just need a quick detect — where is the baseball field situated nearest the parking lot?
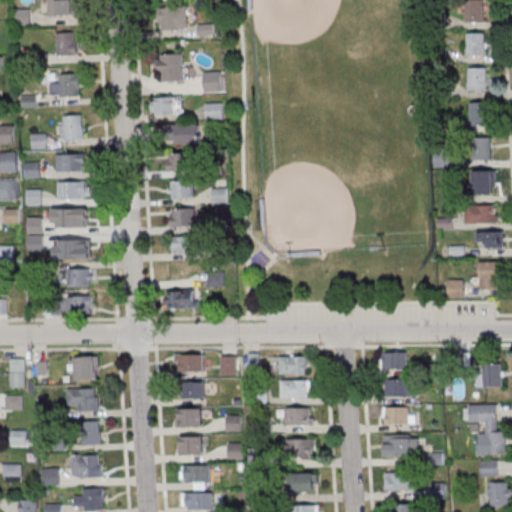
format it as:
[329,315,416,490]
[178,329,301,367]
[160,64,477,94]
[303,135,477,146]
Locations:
[246,44,431,258]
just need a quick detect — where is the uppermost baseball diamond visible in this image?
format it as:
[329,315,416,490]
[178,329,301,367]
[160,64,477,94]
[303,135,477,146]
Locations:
[246,0,405,105]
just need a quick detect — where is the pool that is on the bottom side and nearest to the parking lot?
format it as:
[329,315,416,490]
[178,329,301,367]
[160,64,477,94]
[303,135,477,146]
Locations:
[452,376,466,401]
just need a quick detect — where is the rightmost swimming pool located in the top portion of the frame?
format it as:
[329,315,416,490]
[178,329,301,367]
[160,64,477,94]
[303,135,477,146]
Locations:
[194,53,214,68]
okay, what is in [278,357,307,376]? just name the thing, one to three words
house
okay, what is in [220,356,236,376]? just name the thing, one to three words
building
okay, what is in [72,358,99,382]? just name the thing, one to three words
house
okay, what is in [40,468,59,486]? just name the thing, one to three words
building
